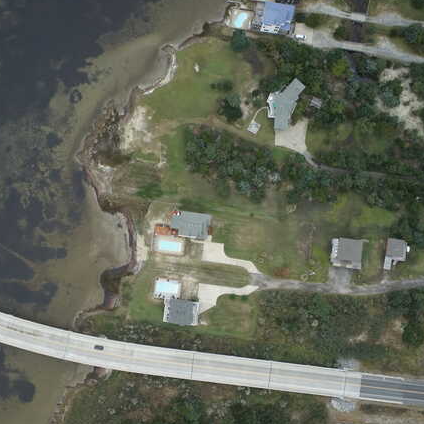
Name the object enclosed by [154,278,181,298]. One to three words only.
swimming pool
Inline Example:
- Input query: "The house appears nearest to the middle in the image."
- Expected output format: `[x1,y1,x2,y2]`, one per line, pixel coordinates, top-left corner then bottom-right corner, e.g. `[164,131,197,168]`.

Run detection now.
[155,212,213,238]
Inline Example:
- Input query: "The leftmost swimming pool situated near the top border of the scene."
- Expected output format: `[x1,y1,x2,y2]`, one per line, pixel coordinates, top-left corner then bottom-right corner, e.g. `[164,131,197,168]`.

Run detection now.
[227,9,254,30]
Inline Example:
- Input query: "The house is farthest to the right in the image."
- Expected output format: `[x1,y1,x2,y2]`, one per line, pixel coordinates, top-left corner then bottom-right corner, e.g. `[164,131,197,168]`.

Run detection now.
[383,238,407,270]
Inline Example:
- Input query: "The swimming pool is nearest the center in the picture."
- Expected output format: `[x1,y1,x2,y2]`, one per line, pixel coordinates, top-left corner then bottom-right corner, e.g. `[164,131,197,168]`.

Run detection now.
[152,236,185,256]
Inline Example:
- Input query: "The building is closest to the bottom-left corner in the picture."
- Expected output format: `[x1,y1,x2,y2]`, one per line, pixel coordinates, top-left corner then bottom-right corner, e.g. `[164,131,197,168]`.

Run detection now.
[163,293,199,326]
